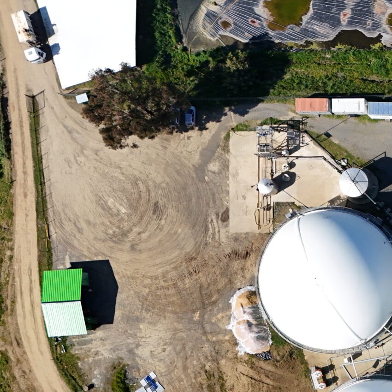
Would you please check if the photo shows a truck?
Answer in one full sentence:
Yes, looking at the shot, I can spot a truck.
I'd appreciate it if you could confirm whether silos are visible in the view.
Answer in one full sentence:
Yes, the frame does contain a silo.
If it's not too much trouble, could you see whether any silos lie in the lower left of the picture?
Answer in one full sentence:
No, in the lower left of the picture there is no silo.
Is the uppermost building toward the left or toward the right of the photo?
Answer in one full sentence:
The uppermost building appears in the left half of the scene.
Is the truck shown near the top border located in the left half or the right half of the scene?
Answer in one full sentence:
You can find the truck shown near the top border on the left side of the picture.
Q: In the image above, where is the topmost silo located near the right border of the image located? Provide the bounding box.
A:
[339,165,379,201]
